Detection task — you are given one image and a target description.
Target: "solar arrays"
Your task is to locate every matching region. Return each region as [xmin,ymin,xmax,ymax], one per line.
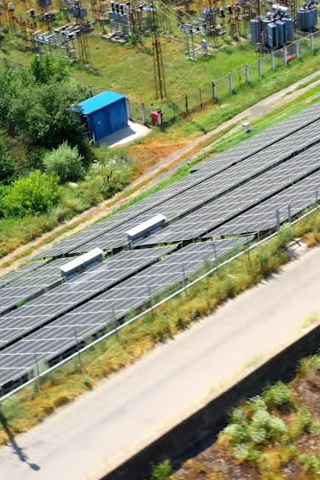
[0,237,247,387]
[67,115,320,255]
[0,260,46,286]
[196,166,320,242]
[0,246,172,346]
[0,257,73,311]
[129,139,320,249]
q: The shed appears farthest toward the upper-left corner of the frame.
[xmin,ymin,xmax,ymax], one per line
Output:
[73,92,129,142]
